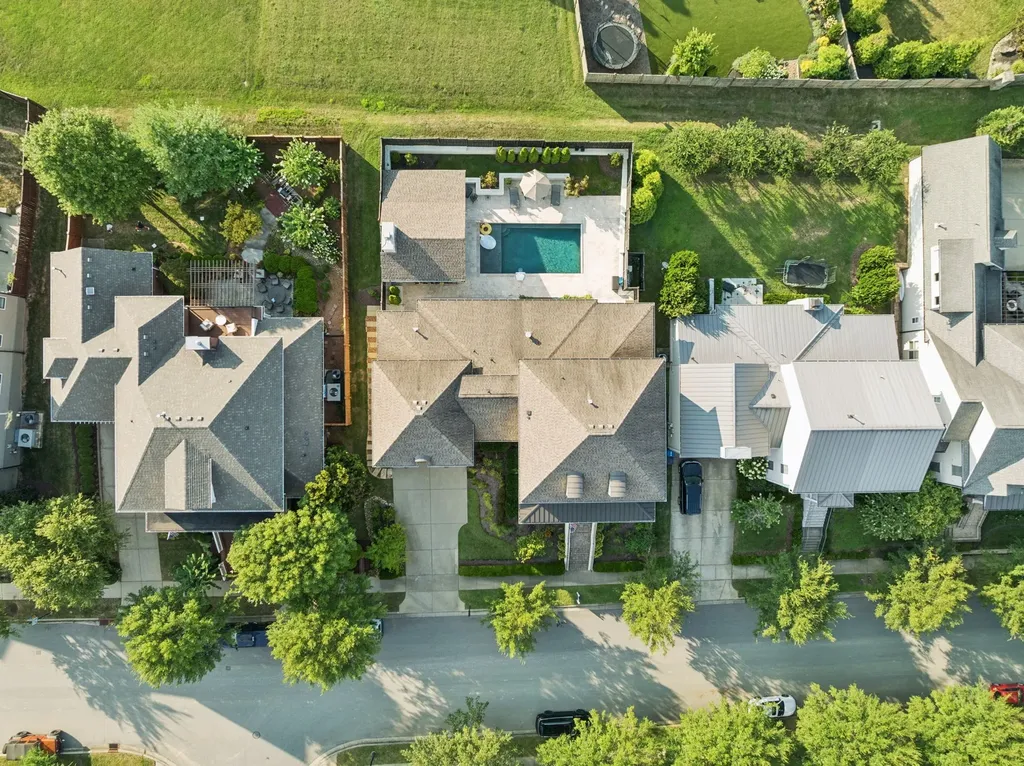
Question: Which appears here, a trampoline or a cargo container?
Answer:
trampoline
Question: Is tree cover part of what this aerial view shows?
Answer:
Yes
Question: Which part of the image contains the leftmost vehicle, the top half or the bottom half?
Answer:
bottom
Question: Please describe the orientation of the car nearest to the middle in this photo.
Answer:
vertically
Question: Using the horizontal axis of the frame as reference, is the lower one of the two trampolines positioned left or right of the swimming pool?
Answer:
on the right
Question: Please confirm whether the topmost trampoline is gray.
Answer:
Yes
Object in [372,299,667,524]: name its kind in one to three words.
house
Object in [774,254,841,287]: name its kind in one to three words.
trampoline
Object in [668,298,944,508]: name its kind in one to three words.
house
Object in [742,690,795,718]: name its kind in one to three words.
car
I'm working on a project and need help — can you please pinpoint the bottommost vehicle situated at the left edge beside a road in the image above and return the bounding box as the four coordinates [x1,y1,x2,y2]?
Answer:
[5,728,65,759]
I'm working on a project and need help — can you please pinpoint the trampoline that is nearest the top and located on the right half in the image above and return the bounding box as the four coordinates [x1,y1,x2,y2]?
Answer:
[592,15,640,72]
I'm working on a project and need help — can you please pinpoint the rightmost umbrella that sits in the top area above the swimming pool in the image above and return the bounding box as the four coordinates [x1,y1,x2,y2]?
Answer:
[520,163,552,196]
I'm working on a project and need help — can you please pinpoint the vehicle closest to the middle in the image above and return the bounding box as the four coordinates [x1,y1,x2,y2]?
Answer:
[678,458,706,517]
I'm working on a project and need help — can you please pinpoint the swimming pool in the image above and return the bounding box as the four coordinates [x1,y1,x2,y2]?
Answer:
[476,221,584,275]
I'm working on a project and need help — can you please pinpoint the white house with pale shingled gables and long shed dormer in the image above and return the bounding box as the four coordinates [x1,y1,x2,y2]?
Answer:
[901,131,1024,511]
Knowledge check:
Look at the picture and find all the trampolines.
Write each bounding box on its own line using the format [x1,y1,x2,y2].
[592,15,640,72]
[774,254,841,287]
